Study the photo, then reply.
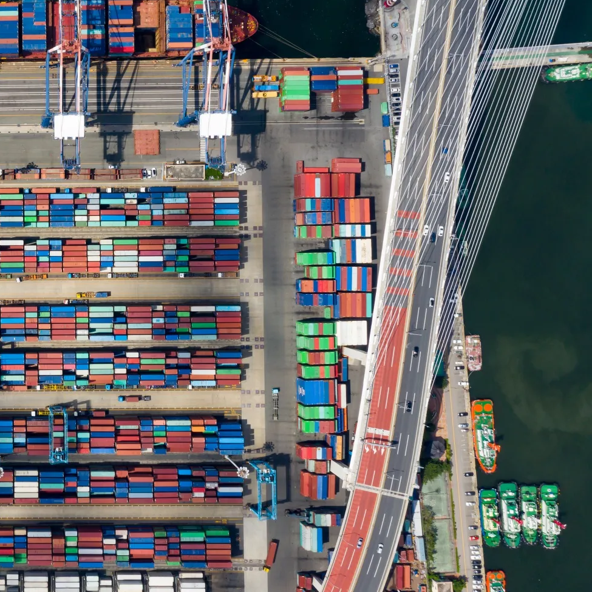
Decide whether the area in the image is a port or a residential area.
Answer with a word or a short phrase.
port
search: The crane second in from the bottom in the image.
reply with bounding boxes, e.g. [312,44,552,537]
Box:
[40,397,70,465]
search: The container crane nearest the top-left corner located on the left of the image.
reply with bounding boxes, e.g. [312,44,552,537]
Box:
[36,0,93,171]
